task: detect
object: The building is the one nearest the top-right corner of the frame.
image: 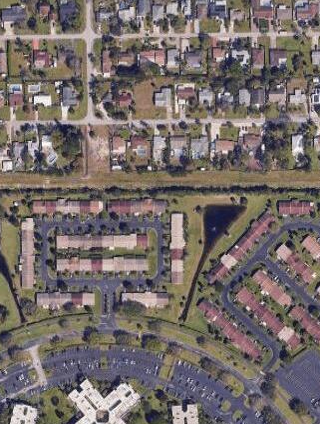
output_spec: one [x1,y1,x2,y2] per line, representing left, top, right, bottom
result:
[295,1,319,18]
